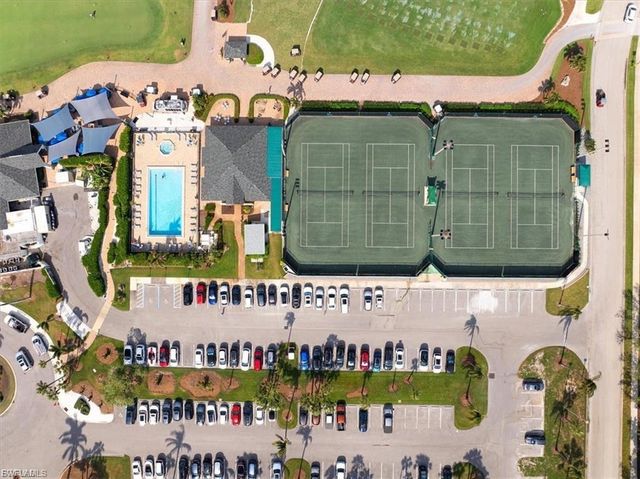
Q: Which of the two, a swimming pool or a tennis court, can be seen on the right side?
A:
tennis court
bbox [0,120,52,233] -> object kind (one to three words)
building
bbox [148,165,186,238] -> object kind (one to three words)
swimming pool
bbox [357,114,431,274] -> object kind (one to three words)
tennis court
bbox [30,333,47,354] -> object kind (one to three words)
car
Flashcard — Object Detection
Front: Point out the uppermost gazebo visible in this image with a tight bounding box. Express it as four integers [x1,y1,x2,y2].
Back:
[224,39,249,60]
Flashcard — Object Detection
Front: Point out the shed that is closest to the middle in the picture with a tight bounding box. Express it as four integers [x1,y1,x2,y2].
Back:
[244,224,265,255]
